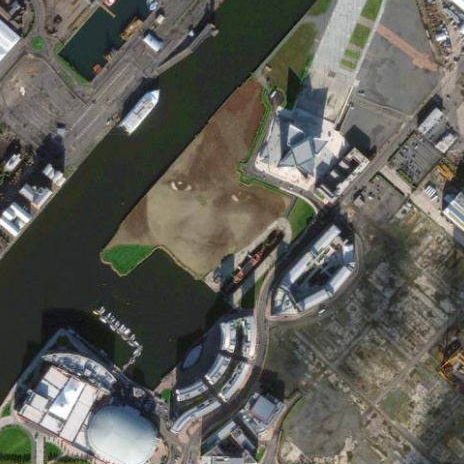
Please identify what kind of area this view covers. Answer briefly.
port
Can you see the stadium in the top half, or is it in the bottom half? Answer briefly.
bottom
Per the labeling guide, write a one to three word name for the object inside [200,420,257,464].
building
